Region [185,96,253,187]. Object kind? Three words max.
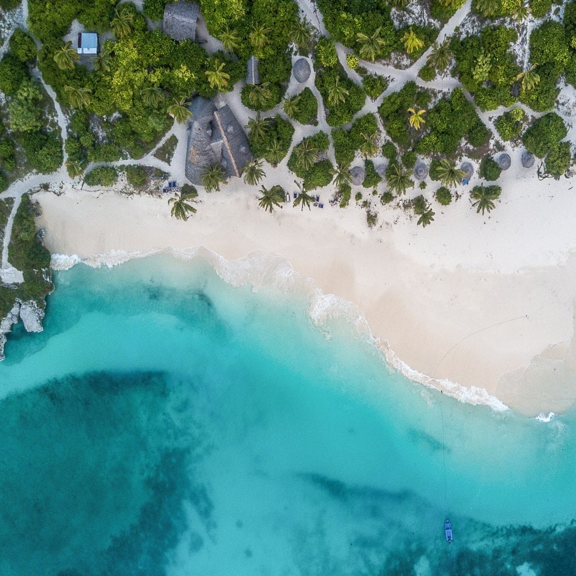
building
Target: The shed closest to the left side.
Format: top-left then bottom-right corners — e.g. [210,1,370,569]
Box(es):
[78,34,99,54]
